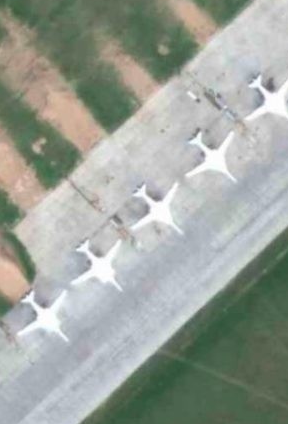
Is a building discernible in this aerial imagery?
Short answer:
No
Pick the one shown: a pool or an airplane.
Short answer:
airplane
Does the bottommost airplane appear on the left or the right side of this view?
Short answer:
left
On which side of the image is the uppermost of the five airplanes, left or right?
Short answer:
right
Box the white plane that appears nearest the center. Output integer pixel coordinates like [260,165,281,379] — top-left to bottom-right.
[131,182,183,234]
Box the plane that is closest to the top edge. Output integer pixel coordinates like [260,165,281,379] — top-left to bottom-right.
[244,75,288,119]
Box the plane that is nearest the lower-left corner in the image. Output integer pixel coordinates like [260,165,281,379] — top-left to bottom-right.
[16,289,69,341]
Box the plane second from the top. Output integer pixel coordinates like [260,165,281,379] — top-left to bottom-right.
[185,129,237,182]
